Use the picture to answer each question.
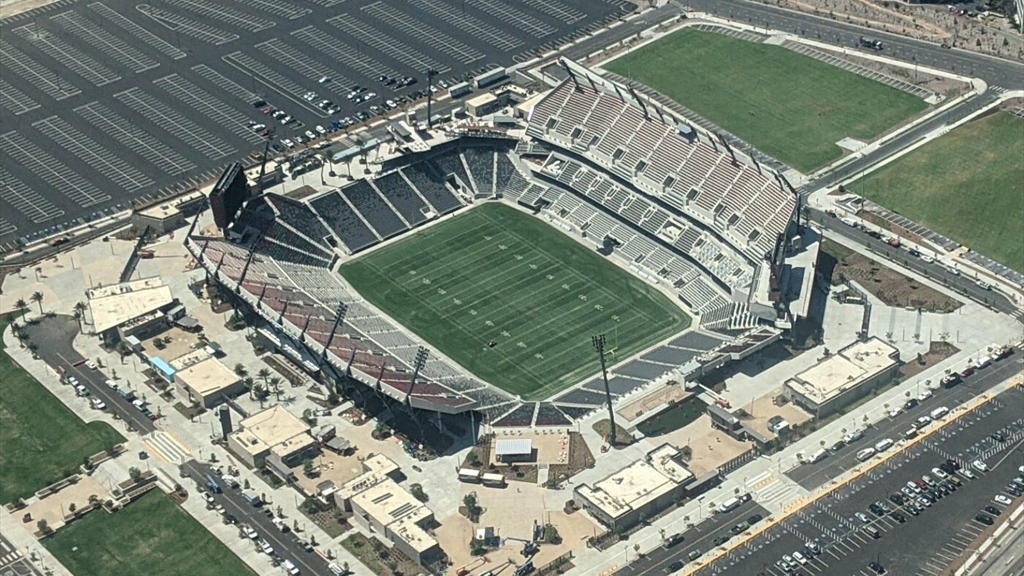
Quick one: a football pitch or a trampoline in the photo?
football pitch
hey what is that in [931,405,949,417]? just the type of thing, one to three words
vehicle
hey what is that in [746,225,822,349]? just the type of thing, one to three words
building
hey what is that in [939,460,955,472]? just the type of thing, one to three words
vehicle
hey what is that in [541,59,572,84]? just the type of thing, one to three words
building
